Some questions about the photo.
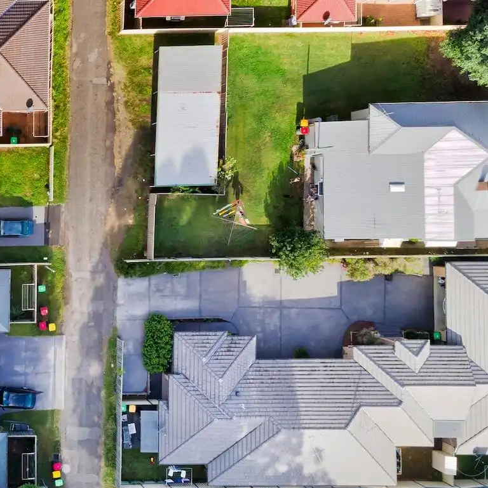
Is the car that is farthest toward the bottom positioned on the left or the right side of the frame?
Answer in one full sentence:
The car that is farthest toward the bottom sits on the left side.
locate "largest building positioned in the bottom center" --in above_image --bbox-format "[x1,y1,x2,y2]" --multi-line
[157,329,434,487]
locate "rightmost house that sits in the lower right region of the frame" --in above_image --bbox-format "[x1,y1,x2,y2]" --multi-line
[344,260,488,457]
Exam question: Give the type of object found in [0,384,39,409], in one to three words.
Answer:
car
